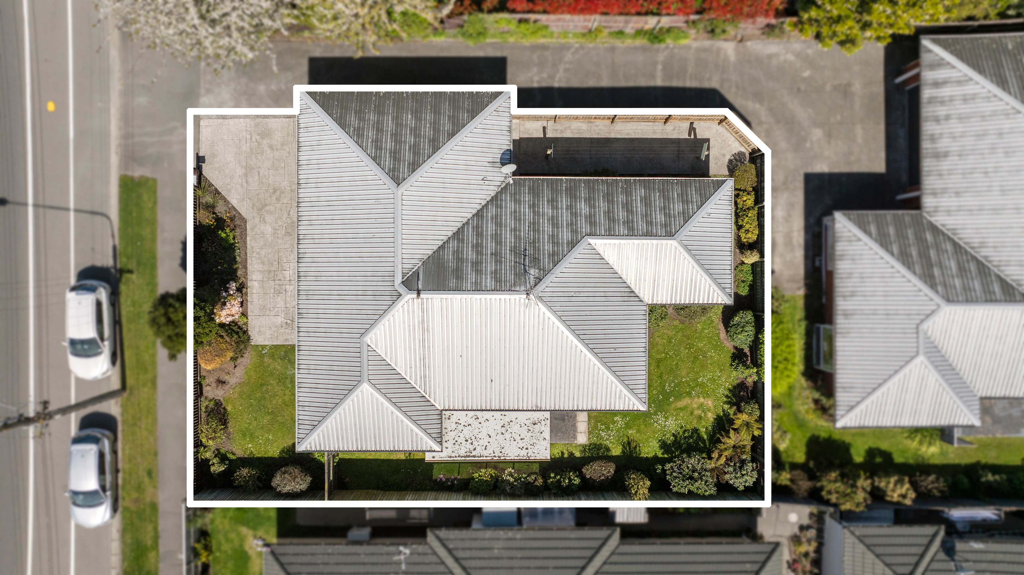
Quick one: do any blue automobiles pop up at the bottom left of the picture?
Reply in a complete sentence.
No, there is no blue automobile at the bottom left of the picture.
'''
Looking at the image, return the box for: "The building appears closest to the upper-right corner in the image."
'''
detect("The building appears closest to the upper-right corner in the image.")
[813,33,1024,430]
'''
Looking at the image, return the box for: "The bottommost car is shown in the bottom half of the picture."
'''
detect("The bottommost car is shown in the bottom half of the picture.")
[66,427,121,525]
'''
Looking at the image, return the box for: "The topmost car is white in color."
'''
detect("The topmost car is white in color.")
[63,280,119,379]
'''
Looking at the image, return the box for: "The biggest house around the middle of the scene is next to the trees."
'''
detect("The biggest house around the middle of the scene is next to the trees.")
[293,84,737,455]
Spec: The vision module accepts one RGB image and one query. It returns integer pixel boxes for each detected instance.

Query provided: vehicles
[66,427,121,525]
[63,280,119,379]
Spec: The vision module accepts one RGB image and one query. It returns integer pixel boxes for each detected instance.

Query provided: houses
[262,519,786,575]
[813,33,1024,430]
[817,508,1024,575]
[293,84,737,455]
